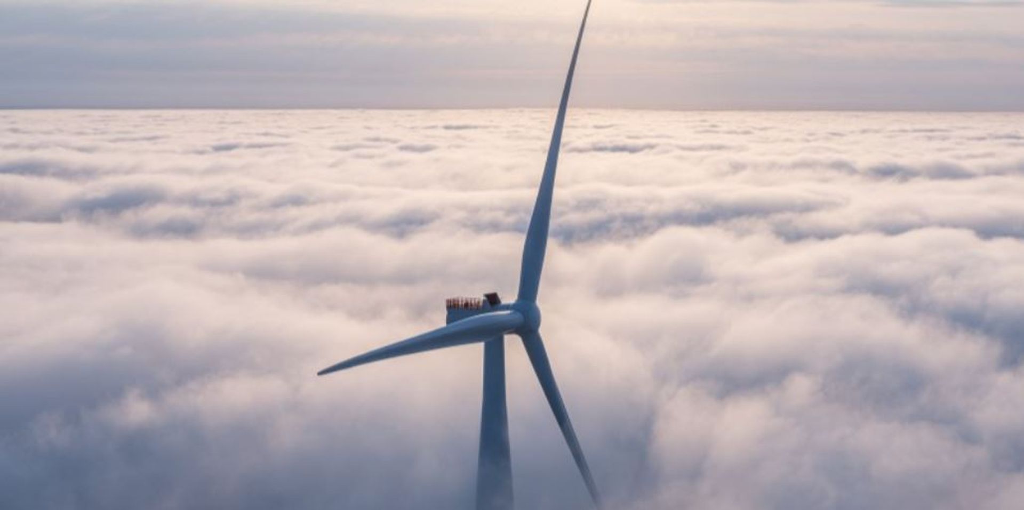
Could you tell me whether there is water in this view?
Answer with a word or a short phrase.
Yes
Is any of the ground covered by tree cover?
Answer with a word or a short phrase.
No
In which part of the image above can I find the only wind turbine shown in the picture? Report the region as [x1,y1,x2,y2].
[319,0,598,510]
